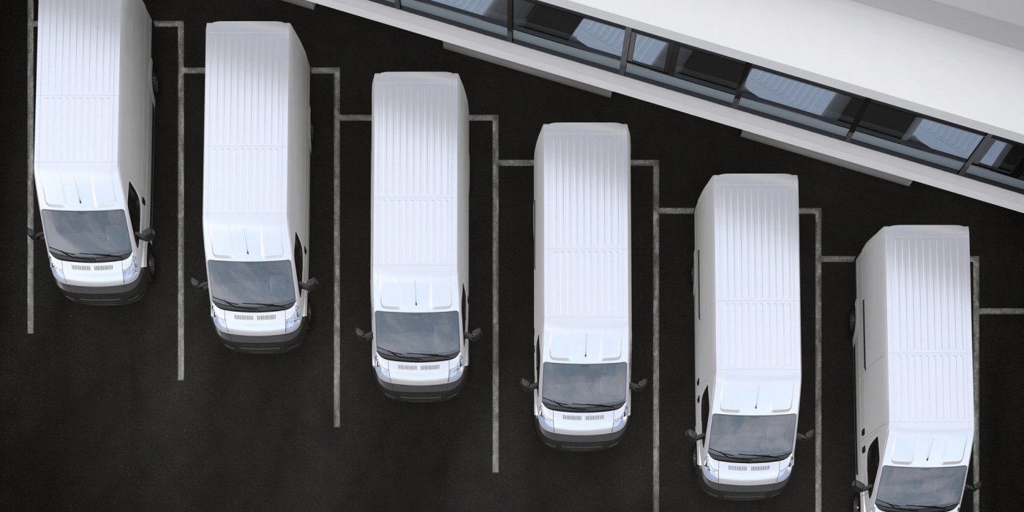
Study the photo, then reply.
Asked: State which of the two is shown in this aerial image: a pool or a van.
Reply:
van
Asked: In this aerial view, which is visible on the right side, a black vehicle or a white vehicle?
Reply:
white vehicle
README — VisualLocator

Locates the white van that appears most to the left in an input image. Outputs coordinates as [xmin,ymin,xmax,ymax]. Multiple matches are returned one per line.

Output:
[25,0,154,306]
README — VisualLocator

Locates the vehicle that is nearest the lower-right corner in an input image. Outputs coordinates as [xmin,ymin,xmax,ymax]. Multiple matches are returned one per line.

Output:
[853,226,982,512]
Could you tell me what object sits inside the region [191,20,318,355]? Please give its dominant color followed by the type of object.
white van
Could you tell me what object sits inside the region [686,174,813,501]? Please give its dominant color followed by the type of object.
white van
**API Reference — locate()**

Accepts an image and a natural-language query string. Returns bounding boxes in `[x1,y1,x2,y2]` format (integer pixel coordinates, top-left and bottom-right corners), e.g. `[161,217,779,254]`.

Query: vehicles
[191,20,318,355]
[521,122,647,452]
[25,0,154,306]
[686,174,813,501]
[356,71,482,403]
[853,226,982,512]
